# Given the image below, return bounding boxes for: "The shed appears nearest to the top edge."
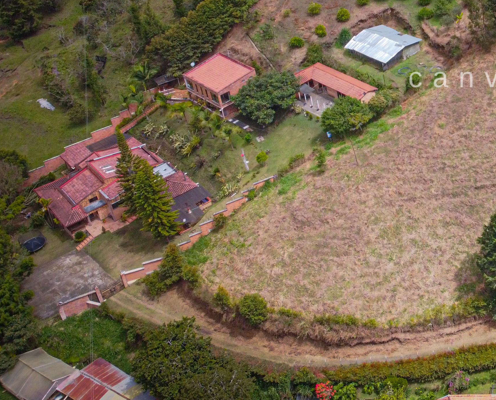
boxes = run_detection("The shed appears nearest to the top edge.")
[344,25,422,72]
